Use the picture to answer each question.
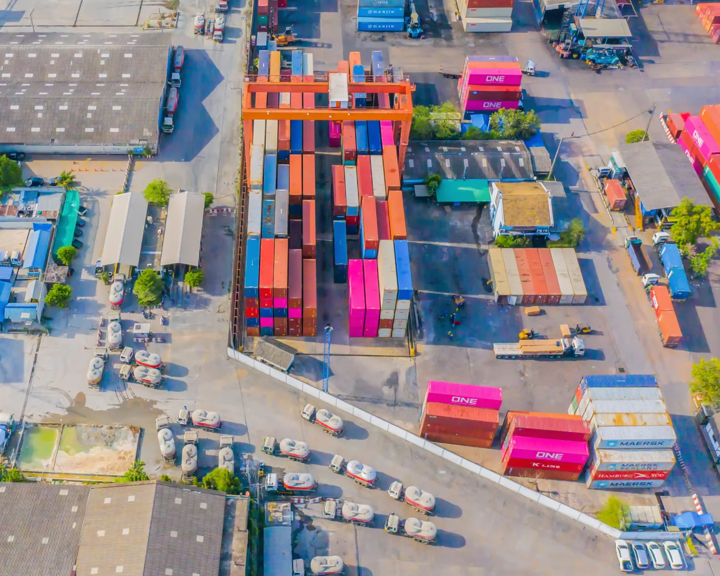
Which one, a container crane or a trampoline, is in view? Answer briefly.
container crane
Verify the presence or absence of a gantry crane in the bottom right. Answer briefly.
No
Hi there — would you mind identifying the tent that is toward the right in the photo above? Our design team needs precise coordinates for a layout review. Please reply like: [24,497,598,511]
[668,512,714,530]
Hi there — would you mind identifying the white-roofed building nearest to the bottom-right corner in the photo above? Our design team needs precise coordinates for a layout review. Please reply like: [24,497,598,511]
[623,506,663,530]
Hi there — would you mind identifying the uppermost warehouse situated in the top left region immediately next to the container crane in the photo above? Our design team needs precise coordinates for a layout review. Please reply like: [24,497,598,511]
[0,31,175,162]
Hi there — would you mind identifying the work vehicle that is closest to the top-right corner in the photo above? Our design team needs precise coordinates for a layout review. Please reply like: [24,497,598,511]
[587,49,616,68]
